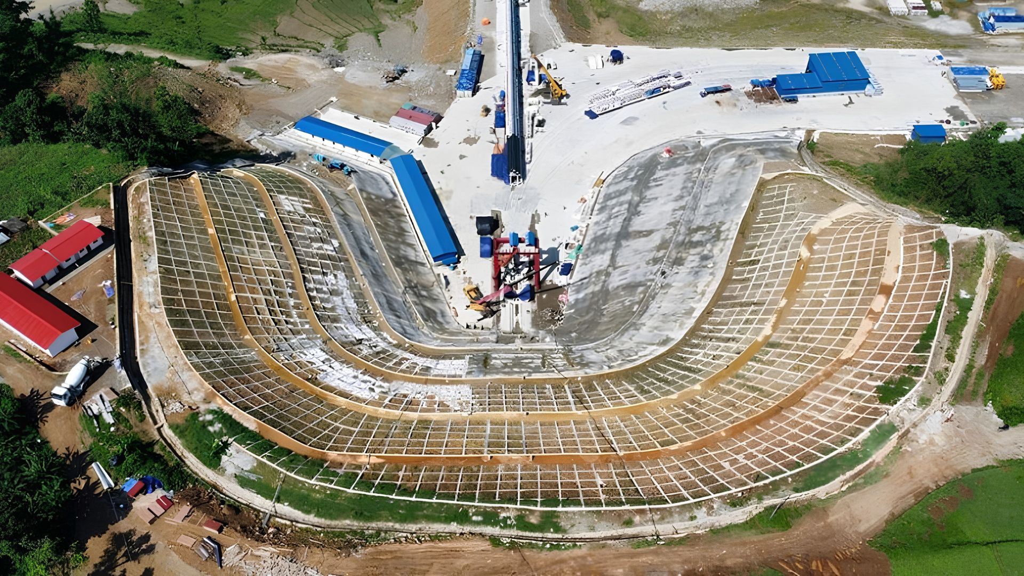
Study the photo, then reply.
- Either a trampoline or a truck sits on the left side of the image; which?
truck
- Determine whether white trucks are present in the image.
Yes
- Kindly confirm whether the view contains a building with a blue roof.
Yes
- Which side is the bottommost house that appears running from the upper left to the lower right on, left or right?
left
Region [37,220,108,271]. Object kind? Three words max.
house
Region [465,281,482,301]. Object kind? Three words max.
work vehicle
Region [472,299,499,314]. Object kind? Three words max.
work vehicle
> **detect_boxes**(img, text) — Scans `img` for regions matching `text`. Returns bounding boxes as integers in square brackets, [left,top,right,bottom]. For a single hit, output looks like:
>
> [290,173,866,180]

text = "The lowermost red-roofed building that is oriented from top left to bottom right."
[0,280,83,356]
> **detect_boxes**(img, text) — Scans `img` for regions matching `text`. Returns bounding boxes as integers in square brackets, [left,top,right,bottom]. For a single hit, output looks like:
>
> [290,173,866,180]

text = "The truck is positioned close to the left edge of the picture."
[46,349,102,397]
